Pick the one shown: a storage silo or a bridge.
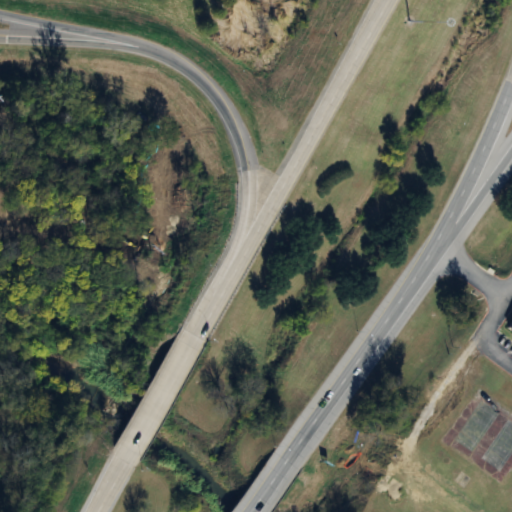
bridge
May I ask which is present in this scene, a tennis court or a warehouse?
tennis court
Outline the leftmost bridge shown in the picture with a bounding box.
[110,326,208,463]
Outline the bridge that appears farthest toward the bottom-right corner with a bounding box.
[232,447,304,512]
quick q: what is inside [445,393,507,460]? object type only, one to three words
tennis court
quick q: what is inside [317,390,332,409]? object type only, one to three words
vehicle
